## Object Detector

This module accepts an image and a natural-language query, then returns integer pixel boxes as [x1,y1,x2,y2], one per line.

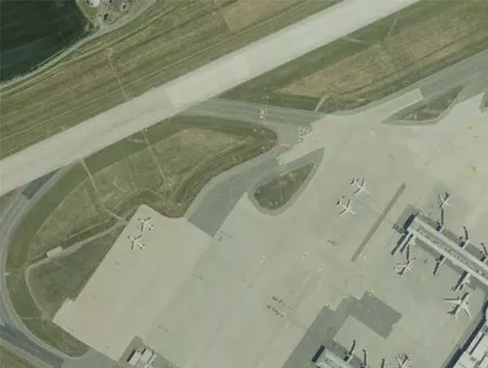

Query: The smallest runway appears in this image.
[168,47,260,110]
